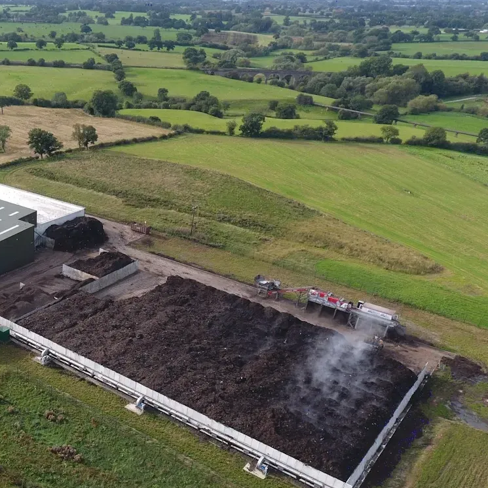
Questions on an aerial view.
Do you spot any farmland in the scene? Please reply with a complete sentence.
Yes, farmland can be seen from above here.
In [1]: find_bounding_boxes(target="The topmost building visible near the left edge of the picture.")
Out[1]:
[0,183,86,231]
